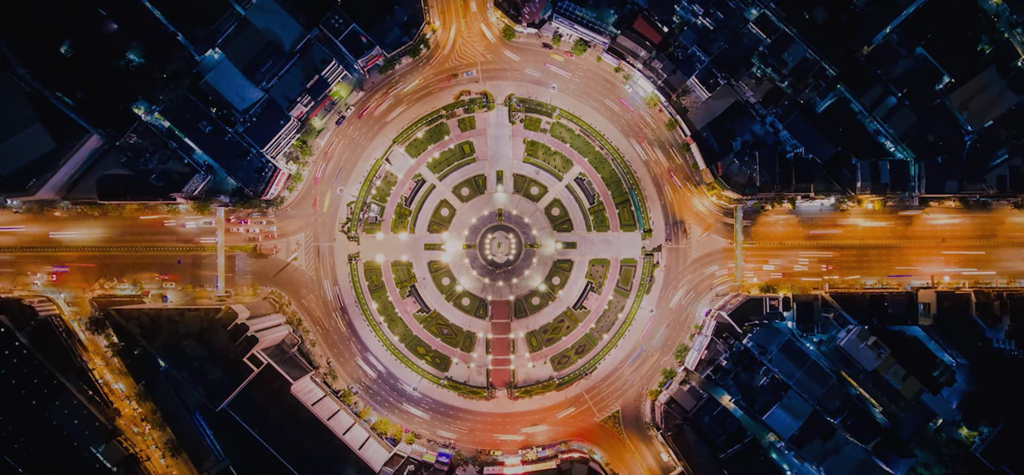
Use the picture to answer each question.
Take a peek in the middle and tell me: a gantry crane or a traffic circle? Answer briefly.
traffic circle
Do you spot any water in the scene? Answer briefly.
No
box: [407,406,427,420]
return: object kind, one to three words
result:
vehicle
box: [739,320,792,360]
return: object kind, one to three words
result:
building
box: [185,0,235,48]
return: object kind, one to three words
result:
house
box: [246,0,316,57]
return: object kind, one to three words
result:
building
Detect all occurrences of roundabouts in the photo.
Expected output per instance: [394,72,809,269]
[286,32,714,449]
